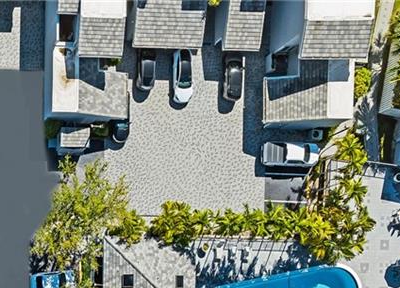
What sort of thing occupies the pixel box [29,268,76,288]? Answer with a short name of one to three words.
car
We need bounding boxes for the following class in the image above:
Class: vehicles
[258,136,322,168]
[29,268,76,288]
[219,53,245,102]
[108,101,132,147]
[134,48,159,95]
[170,48,196,106]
